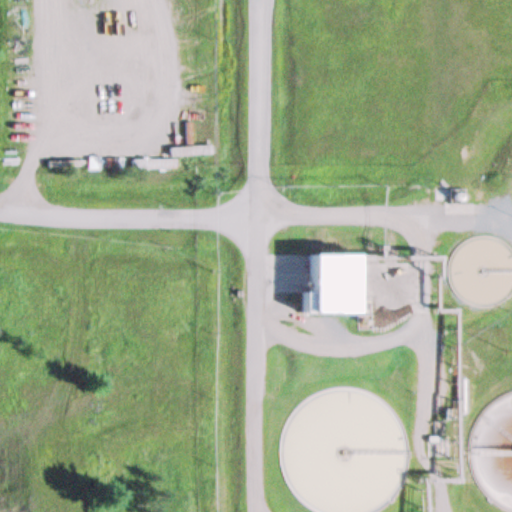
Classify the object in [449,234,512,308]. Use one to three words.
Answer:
storage tank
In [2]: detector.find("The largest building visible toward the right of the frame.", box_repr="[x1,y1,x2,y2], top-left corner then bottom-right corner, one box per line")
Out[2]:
[302,253,366,318]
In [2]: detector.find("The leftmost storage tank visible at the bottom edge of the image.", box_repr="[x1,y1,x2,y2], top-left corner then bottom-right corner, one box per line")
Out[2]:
[281,386,408,512]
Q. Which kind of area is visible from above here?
industrial area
